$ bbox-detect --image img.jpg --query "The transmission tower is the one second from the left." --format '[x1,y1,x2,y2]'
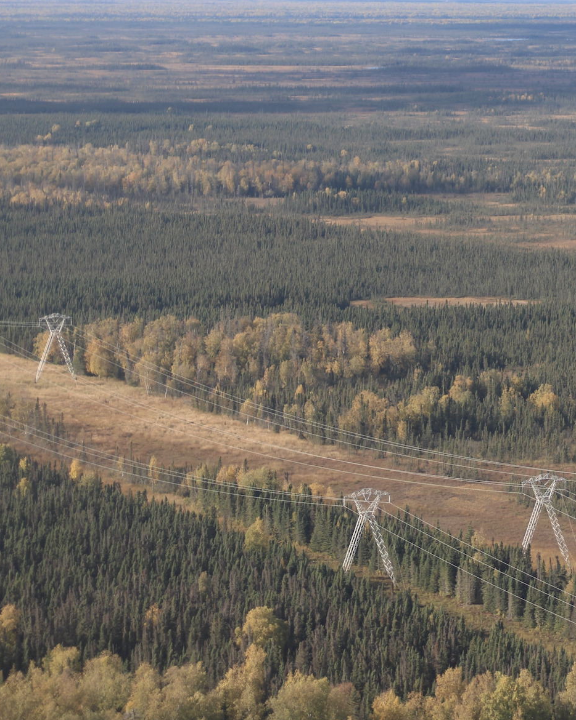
[335,485,406,585]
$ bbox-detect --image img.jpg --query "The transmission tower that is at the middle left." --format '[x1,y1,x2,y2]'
[37,313,77,382]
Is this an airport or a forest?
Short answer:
forest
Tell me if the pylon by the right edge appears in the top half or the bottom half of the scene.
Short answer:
bottom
